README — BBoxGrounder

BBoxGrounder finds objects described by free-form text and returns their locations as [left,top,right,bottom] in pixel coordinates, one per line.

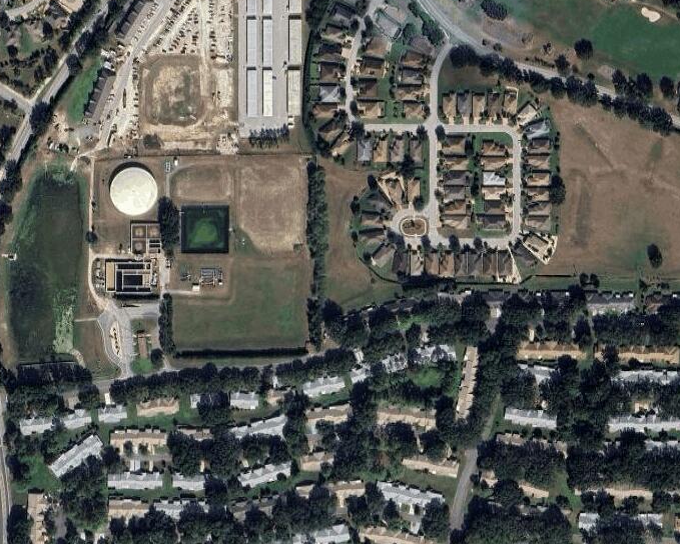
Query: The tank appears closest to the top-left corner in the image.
[110,166,157,214]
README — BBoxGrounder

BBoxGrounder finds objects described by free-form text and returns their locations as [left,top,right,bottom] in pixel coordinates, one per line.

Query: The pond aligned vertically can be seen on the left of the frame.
[12,176,81,360]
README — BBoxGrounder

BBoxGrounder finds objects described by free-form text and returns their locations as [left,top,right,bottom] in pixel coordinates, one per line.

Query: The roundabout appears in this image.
[395,211,432,241]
